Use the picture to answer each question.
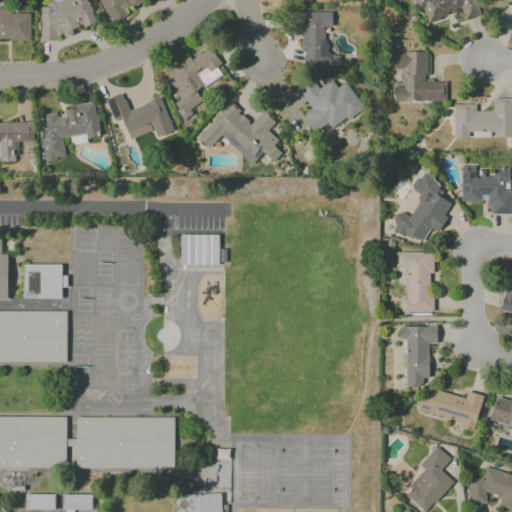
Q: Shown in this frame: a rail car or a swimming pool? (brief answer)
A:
swimming pool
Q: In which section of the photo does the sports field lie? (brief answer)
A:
center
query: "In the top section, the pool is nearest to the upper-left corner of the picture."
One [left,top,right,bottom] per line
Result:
[80,146,109,170]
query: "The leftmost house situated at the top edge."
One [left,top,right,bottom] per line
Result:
[0,10,31,40]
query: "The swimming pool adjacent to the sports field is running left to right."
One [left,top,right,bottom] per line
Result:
[210,155,238,167]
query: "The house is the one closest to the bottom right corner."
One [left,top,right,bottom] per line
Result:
[466,466,512,506]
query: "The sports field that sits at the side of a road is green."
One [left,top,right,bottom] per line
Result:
[221,177,382,434]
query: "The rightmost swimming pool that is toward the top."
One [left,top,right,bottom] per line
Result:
[445,158,460,184]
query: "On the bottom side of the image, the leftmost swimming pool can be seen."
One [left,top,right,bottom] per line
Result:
[390,439,404,459]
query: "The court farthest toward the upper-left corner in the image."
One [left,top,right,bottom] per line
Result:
[74,226,98,251]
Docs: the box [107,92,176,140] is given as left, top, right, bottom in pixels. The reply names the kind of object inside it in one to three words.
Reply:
house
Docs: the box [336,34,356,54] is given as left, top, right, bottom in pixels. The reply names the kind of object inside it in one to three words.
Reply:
swimming pool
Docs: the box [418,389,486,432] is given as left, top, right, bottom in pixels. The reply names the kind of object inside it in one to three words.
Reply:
house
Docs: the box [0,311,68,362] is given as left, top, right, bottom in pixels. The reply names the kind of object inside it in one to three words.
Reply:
building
